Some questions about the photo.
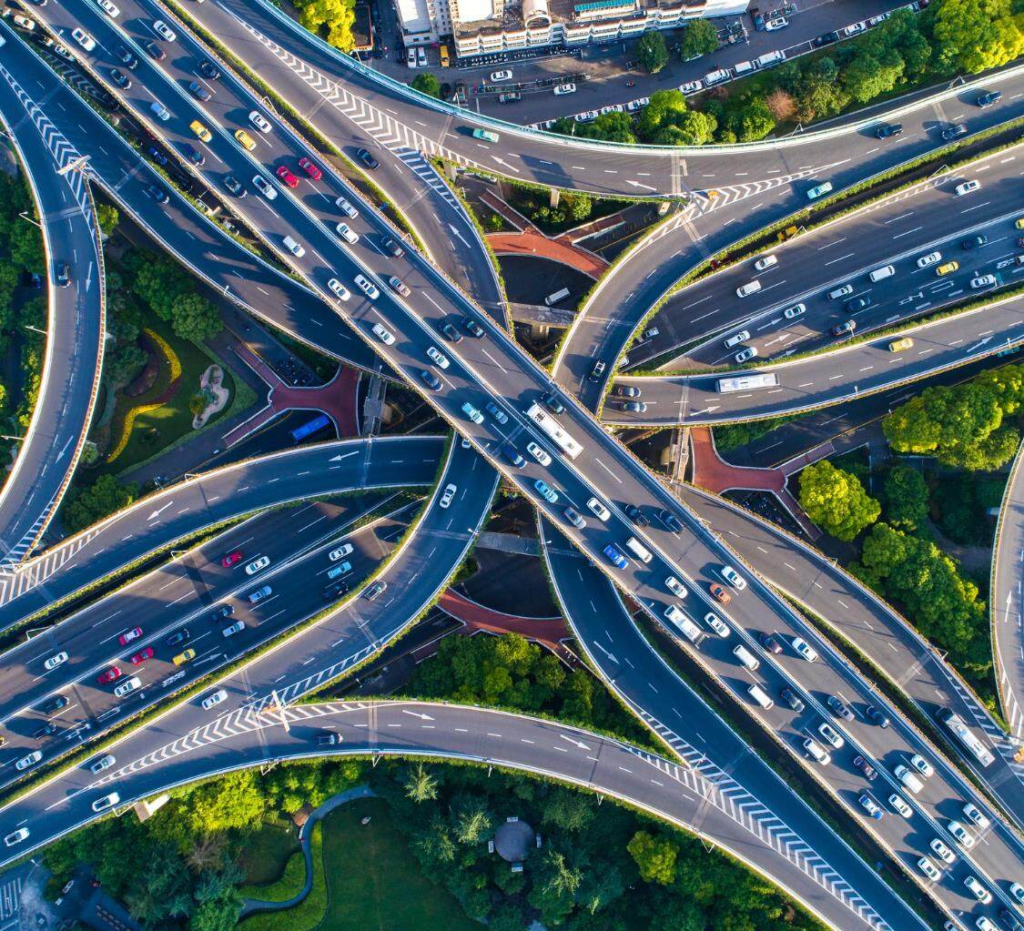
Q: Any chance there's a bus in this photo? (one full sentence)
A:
Yes, a bus is visible in the scene.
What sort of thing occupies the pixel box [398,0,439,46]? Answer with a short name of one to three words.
building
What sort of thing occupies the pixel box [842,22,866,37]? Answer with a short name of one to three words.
car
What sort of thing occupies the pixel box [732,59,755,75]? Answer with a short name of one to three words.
vehicle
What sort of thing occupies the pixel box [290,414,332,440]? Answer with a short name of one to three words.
bus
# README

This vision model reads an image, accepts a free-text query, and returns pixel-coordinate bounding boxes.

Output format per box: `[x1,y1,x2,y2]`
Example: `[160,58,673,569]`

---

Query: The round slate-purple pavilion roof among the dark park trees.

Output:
[495,823,533,861]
